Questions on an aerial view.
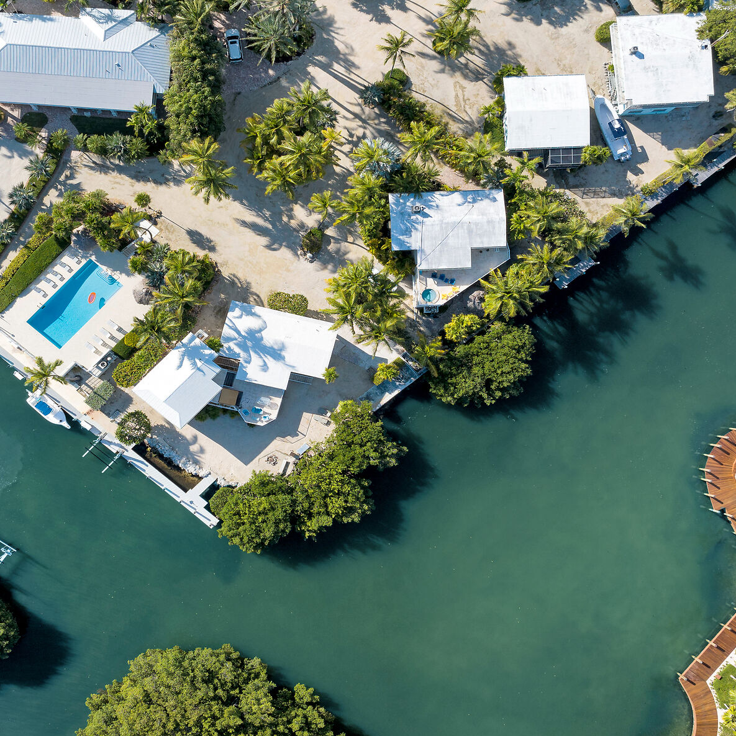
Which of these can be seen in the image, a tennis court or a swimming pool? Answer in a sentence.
Looking from above, you can make out a swimming pool.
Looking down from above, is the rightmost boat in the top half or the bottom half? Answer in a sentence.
You can find the rightmost boat in the top half.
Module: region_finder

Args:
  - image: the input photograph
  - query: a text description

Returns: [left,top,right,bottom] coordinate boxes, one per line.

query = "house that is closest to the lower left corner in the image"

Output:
[132,332,224,429]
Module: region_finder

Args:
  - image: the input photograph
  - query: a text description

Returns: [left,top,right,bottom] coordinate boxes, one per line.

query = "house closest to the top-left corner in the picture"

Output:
[0,7,172,119]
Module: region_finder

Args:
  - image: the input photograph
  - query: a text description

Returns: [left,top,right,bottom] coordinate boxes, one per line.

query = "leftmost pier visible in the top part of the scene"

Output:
[555,259,596,290]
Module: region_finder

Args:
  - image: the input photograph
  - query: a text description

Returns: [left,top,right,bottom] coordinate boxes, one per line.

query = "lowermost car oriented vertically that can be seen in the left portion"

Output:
[225,28,242,64]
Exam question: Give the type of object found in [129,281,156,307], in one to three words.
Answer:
umbrella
